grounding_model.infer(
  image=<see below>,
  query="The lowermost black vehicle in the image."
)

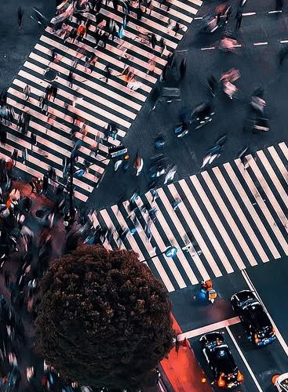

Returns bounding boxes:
[197,327,244,389]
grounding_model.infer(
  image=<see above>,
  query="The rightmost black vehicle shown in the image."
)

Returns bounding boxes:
[232,284,280,346]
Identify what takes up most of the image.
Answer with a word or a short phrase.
paved ground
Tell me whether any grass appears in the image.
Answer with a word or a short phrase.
No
